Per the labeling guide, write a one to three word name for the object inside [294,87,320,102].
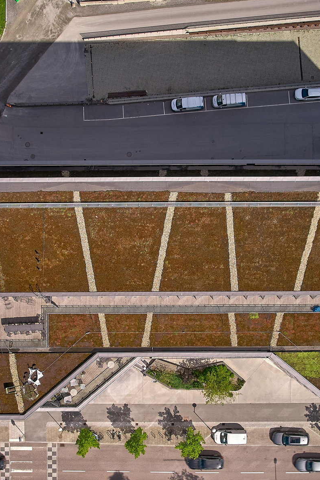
car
